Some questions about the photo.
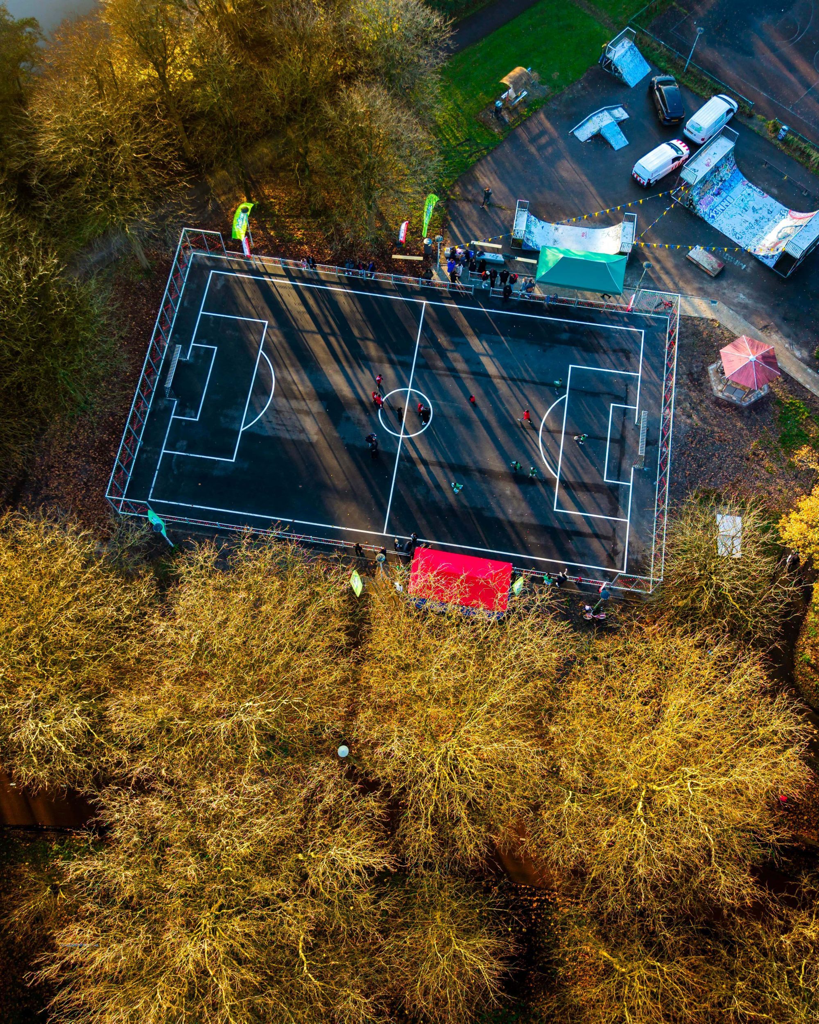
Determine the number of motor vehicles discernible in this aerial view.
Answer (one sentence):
My tally gives 3 motor vehicles in this view.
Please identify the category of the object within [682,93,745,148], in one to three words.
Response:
van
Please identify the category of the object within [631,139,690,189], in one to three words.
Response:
van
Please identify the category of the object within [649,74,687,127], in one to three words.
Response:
car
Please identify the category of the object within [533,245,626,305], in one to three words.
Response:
gazebo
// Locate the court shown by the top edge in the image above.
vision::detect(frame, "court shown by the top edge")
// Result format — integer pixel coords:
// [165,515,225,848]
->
[647,0,819,150]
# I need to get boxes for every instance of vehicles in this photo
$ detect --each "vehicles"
[649,74,687,127]
[631,139,690,189]
[682,93,745,148]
